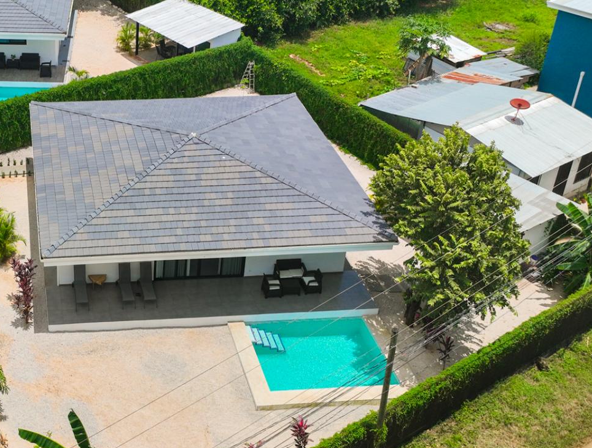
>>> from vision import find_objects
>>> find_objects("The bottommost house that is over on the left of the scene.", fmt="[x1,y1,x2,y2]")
[25,90,388,332]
